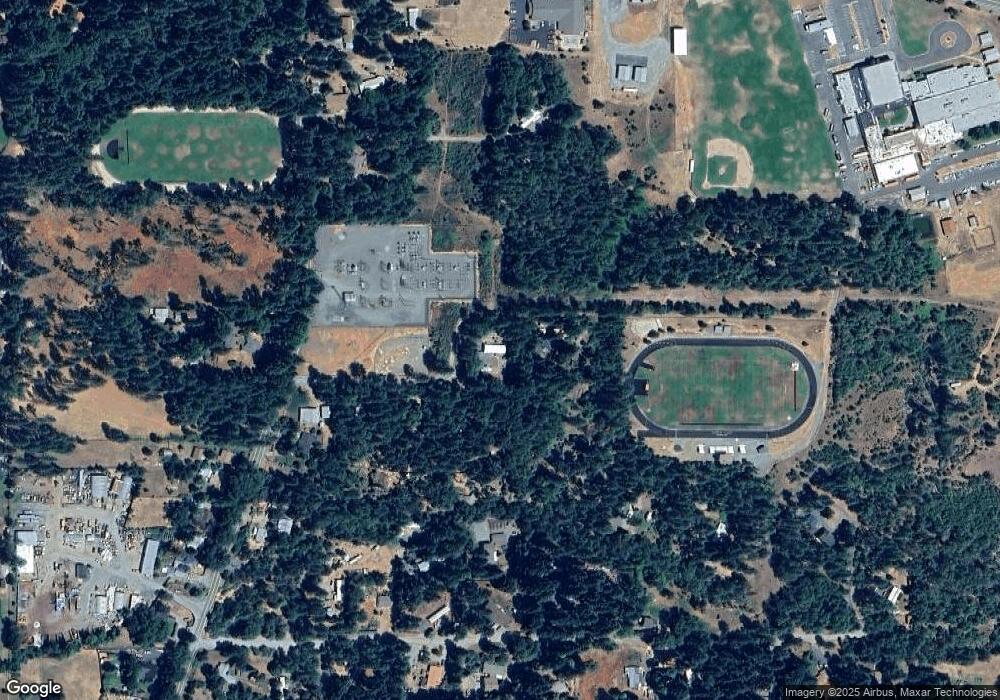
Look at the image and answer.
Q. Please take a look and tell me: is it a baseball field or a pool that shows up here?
baseball field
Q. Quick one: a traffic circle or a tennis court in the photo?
traffic circle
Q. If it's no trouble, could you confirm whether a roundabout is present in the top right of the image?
Yes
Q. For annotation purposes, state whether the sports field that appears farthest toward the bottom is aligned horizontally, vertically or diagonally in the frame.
horizontally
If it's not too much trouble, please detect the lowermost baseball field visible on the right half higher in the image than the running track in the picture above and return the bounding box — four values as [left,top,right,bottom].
[692,134,758,194]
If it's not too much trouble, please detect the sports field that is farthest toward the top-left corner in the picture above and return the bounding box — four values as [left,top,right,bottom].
[95,107,284,187]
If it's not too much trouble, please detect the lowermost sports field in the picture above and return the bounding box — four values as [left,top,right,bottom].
[634,348,808,428]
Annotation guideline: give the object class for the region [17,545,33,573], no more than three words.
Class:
building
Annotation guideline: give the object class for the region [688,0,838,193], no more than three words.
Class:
sports field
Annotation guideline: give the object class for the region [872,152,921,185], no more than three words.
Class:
building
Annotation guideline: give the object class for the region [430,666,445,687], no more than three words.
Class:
house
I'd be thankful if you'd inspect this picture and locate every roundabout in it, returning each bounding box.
[893,21,972,71]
